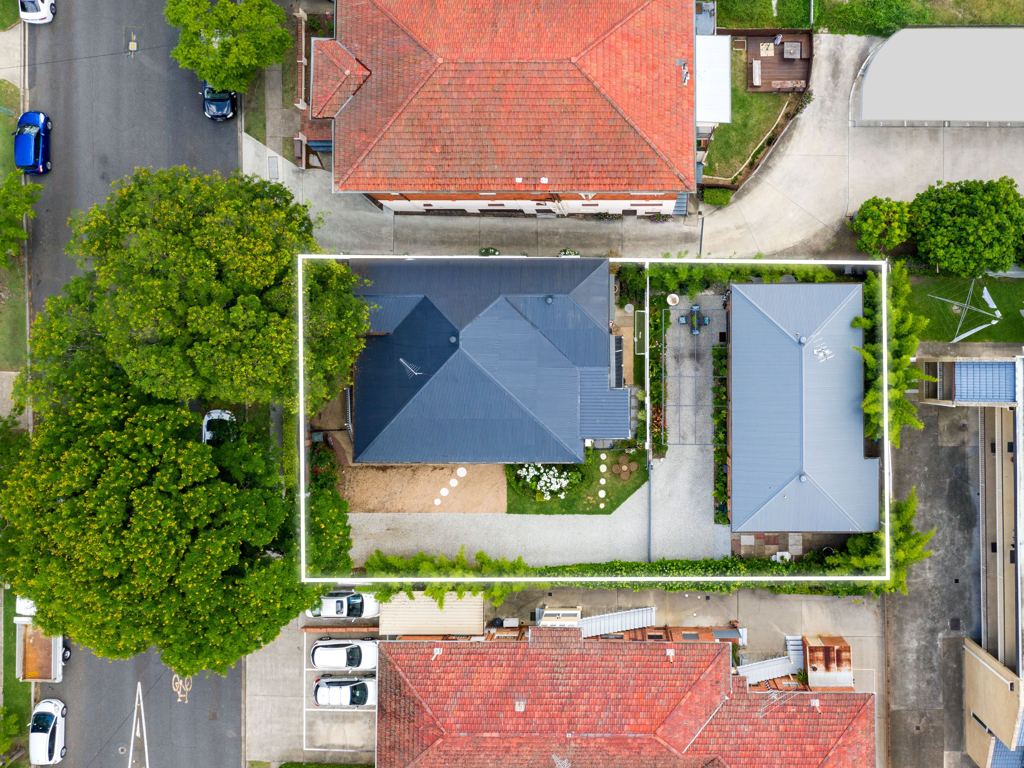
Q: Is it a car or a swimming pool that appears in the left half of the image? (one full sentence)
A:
You can see a car in the left half of the image.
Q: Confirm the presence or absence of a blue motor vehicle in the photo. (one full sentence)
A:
Yes, there is a blue motor vehicle in the image.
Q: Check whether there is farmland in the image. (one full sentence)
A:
No, the picture contains no farmland.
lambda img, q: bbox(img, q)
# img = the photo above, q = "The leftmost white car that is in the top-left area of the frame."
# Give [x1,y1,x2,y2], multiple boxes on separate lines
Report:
[14,0,52,23]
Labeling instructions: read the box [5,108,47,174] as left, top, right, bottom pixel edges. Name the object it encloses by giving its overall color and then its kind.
blue car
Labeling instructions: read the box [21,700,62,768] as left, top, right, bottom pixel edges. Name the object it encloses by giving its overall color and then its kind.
white car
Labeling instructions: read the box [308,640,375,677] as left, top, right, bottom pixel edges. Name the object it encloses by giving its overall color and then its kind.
white car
